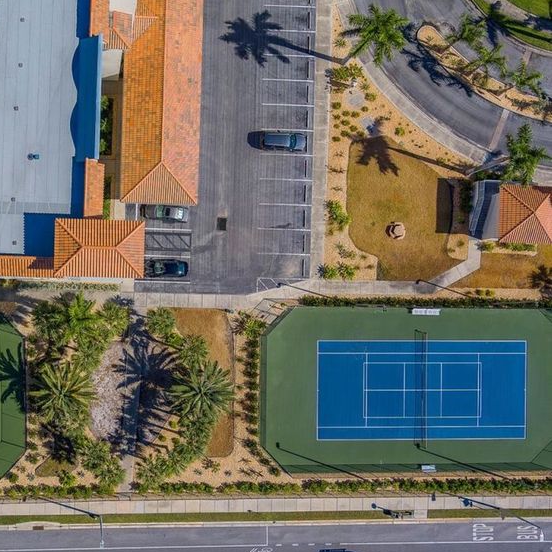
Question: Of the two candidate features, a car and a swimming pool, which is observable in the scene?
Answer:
car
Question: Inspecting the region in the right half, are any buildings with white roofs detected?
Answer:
No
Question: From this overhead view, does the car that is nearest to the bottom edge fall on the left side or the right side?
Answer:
left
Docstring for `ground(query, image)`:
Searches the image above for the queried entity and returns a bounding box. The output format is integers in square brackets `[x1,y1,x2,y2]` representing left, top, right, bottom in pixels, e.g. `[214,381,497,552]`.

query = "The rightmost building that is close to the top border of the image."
[120,0,204,205]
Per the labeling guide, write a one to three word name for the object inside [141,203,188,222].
car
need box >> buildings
[482,183,552,245]
[120,0,204,205]
[0,0,146,285]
